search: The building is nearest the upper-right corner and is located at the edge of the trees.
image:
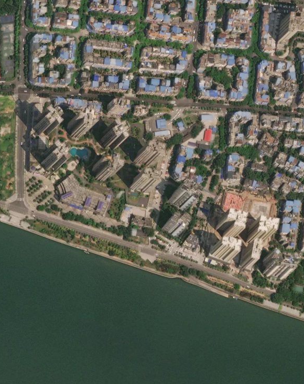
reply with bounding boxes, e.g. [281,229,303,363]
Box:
[278,8,304,37]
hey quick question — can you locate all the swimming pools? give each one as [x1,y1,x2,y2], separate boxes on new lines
[69,147,89,159]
